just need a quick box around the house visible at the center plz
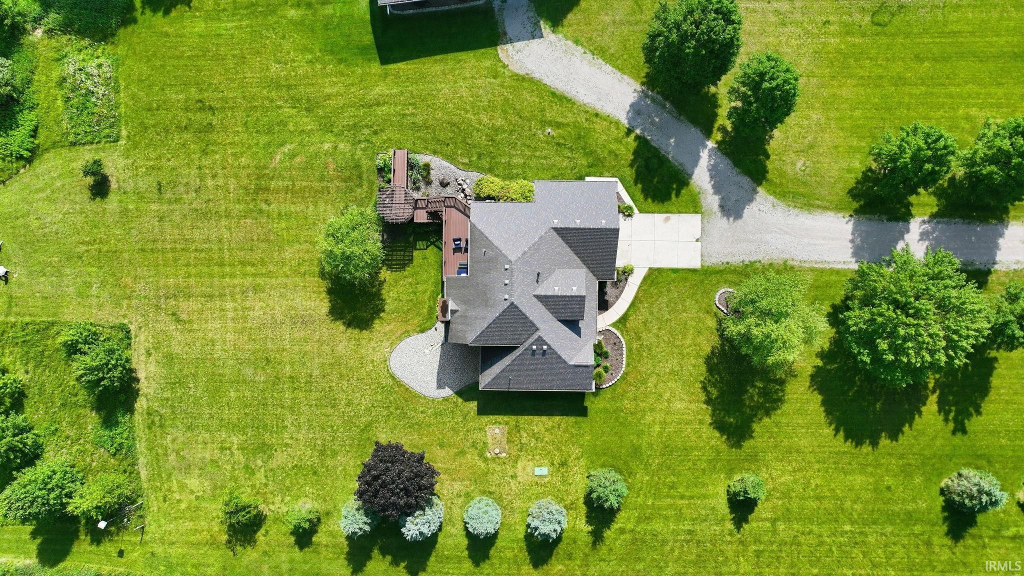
[437,179,622,392]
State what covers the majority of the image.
grass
